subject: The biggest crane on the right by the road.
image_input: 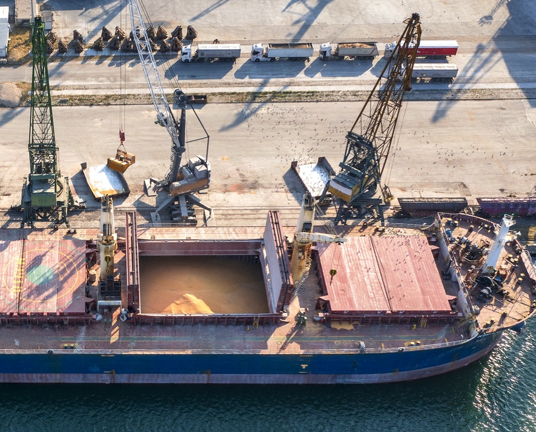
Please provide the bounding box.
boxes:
[315,8,427,231]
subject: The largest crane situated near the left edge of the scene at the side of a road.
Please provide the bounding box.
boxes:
[8,12,85,231]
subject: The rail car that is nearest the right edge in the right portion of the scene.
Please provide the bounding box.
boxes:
[469,189,536,213]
